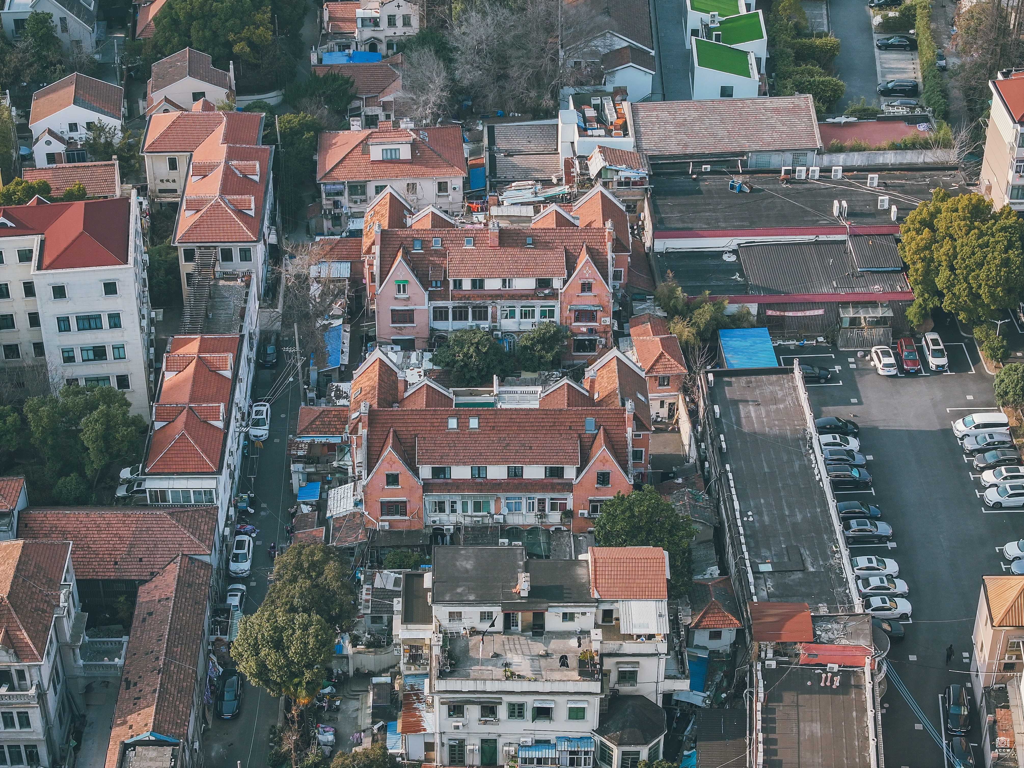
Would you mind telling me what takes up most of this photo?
buildings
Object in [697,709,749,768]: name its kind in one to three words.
shed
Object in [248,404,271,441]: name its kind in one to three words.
car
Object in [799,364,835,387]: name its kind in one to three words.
car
